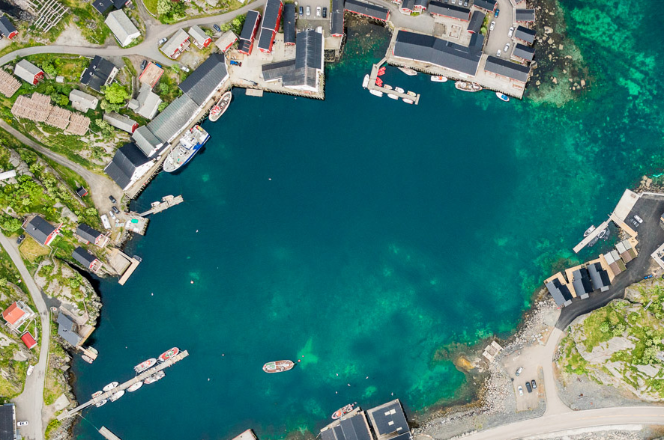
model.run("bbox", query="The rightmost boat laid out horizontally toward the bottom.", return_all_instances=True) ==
[262,360,294,374]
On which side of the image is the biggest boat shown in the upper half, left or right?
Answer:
left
